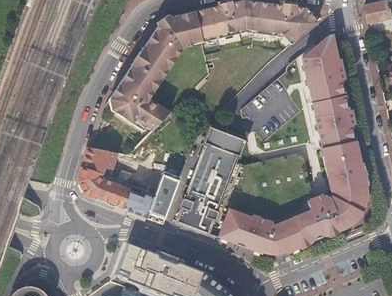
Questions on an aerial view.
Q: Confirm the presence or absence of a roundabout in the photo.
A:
Yes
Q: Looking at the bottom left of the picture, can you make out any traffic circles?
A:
Yes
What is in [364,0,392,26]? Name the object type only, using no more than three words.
house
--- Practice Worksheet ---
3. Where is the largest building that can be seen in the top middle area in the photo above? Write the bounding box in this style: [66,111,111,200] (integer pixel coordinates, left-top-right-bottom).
[111,1,317,130]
